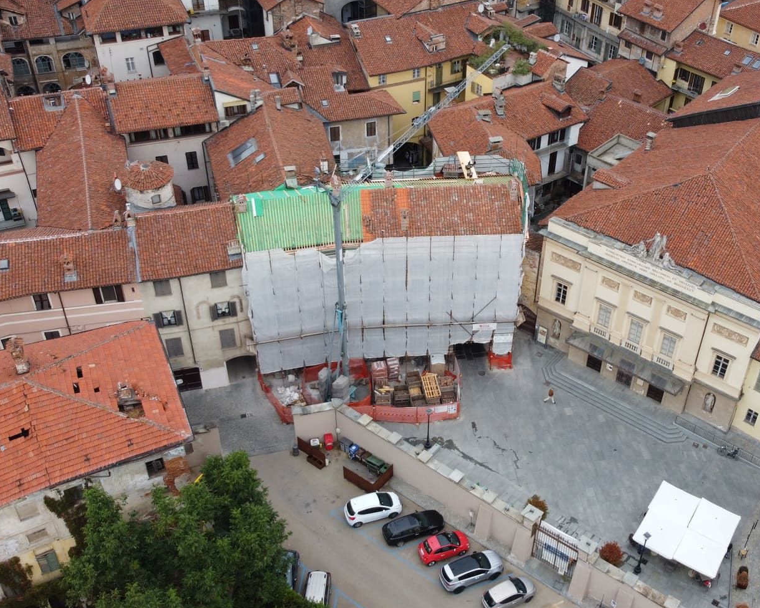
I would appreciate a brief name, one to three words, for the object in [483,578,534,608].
car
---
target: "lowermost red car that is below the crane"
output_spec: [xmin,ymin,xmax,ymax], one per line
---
[420,532,466,565]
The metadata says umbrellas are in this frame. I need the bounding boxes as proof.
[633,510,684,561]
[649,482,699,526]
[672,527,724,580]
[683,497,739,546]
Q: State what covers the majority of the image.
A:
buildings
